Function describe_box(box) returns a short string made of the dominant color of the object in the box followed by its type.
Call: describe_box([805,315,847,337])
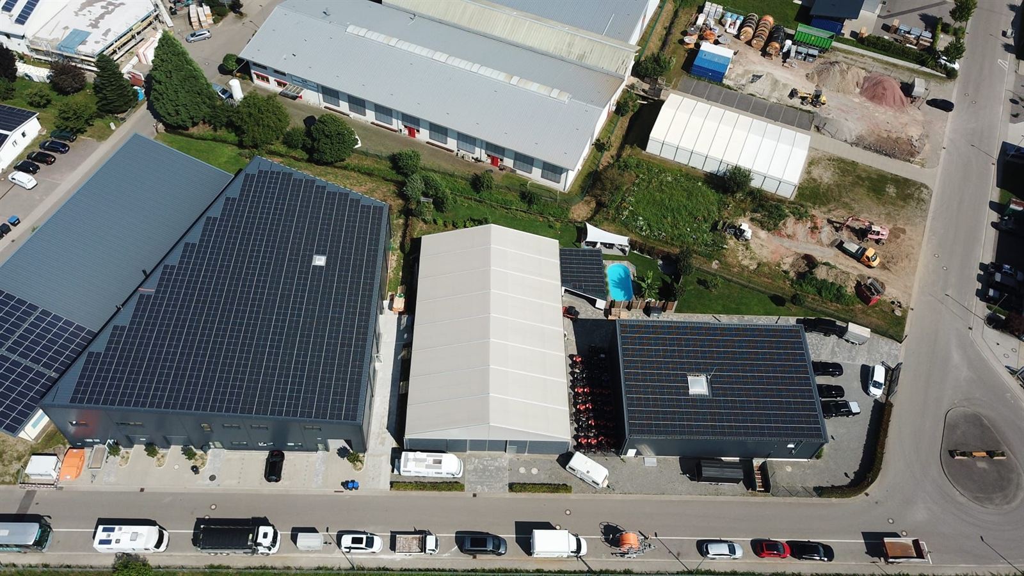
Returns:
black vehicle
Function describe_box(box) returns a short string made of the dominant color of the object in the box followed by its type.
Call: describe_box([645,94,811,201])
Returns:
white tent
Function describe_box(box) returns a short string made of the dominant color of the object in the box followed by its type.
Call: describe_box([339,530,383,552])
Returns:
white car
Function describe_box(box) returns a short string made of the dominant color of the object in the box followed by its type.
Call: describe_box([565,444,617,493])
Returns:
white camper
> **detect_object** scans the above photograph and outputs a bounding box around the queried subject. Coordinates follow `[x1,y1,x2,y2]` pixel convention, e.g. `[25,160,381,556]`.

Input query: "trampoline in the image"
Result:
[656,246,685,275]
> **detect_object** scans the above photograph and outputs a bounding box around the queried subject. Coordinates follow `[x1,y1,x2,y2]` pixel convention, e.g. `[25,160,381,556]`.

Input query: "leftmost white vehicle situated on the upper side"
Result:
[6,167,37,190]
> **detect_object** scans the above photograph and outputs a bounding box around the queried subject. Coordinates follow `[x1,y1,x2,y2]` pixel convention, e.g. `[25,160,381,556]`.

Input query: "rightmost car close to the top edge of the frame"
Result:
[1006,24,1021,39]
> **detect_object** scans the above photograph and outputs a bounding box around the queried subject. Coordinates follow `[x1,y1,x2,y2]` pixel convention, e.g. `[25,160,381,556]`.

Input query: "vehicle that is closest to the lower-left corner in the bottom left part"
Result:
[0,521,54,554]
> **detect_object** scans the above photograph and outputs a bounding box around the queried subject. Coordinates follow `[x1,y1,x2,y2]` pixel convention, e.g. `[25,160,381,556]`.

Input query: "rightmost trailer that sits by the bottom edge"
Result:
[882,535,935,559]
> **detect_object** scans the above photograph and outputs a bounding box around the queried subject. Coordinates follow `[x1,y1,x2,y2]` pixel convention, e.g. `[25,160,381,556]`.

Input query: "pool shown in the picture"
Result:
[606,260,636,298]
